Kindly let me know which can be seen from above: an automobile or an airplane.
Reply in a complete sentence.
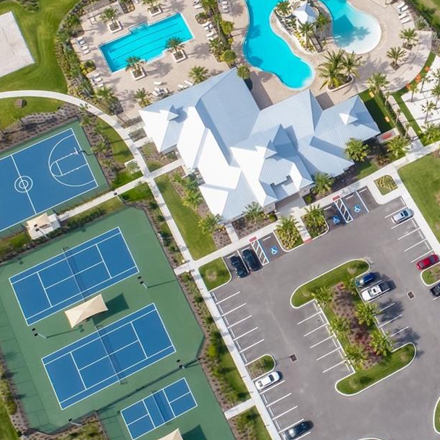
The one in the frame is an automobile.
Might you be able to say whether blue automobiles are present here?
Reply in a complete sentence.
Yes, there's a blue automobile down there.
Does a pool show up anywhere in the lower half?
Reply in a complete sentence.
No, no pool can be made out in the lower half.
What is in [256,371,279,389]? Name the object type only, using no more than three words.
car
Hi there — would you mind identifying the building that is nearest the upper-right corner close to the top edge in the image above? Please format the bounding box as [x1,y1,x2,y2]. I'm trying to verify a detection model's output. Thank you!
[294,5,317,35]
